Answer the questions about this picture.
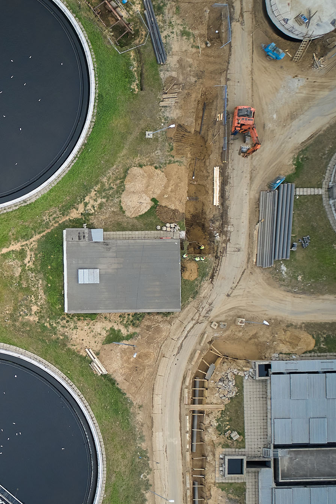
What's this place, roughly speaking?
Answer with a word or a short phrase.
industrial area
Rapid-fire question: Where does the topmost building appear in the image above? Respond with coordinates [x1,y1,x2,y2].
[60,228,181,313]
